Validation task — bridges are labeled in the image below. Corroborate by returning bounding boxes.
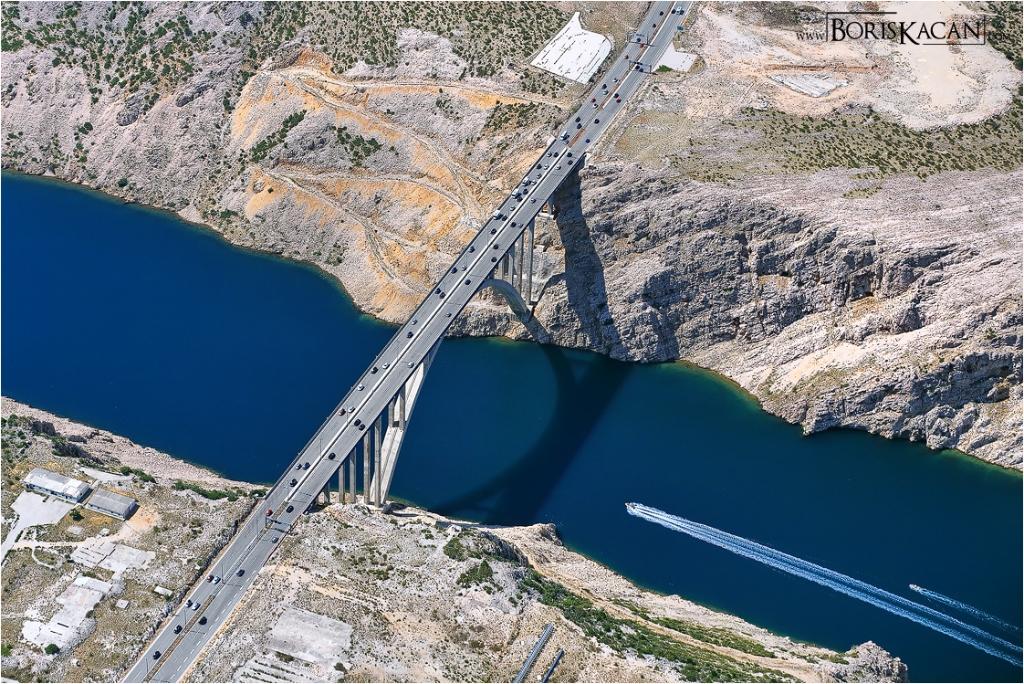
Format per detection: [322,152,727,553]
[262,132,599,513]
